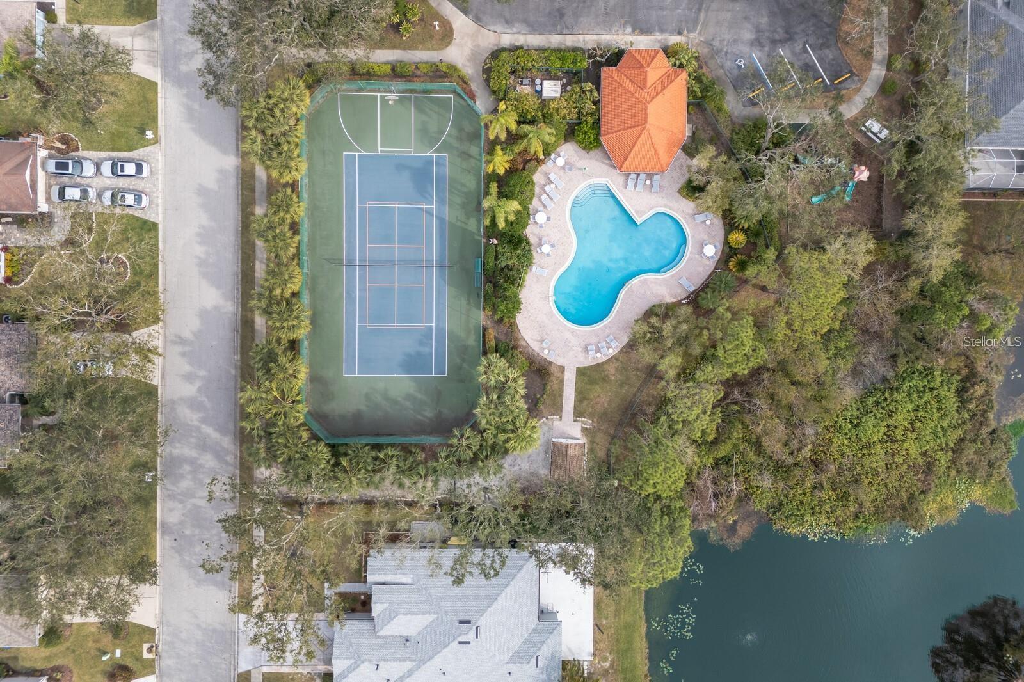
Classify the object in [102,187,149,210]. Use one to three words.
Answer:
car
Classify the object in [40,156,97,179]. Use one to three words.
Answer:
car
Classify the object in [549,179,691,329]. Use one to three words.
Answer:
swimming pool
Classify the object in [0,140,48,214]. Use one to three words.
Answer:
house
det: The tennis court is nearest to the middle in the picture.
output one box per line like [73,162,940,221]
[310,91,480,435]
